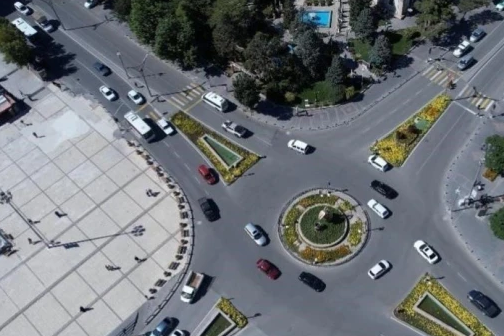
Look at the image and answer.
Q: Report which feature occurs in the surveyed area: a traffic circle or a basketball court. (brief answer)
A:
traffic circle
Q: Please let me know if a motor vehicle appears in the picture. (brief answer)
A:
Yes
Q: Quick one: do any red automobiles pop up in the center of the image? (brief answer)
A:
Yes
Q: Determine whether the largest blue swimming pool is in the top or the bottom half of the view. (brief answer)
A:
top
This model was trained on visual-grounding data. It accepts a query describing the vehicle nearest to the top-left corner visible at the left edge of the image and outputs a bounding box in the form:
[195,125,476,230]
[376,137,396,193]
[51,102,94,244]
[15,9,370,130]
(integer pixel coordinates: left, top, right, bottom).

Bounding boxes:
[12,1,31,16]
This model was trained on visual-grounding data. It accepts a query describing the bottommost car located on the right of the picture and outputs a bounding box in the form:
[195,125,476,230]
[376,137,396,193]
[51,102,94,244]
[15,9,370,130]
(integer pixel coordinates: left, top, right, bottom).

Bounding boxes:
[467,288,500,316]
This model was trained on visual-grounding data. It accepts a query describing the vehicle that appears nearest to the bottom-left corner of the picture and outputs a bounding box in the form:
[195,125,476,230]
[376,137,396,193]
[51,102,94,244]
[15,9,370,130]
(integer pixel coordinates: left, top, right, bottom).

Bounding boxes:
[148,318,174,336]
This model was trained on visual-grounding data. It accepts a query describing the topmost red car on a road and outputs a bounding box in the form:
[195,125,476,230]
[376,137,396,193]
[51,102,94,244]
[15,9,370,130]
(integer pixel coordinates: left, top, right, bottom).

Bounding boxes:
[196,163,218,184]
